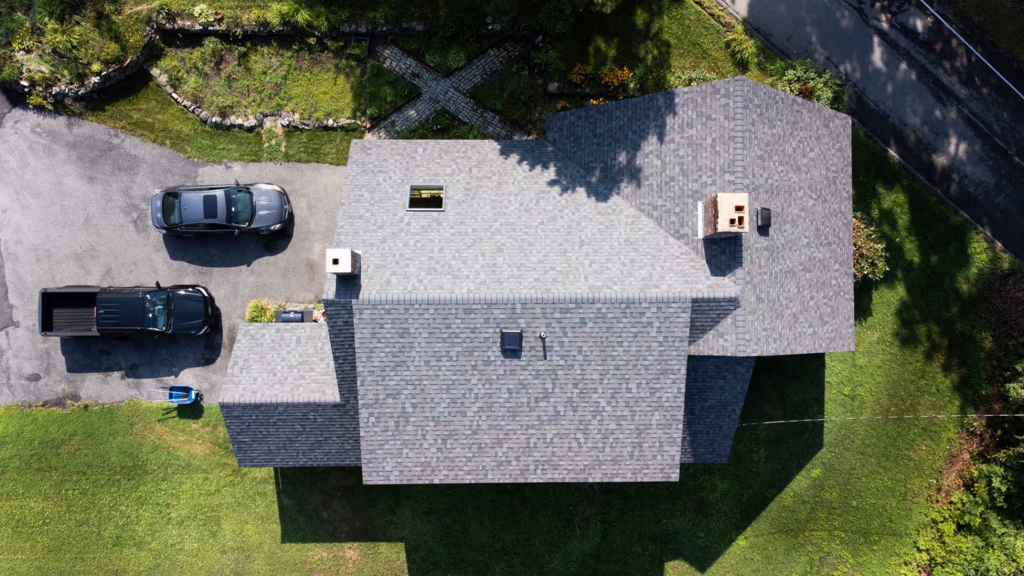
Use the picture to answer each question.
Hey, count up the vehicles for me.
2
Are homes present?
Yes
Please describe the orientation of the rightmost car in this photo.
from left to right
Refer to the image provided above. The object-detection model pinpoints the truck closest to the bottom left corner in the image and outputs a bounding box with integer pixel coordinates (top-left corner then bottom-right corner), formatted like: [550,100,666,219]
[38,280,216,344]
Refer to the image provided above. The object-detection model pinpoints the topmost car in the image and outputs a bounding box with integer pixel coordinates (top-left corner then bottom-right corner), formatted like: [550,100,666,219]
[151,177,294,241]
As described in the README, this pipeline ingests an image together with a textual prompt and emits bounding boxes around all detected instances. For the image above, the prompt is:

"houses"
[218,78,855,484]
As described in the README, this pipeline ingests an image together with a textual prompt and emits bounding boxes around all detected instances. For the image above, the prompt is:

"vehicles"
[38,280,216,344]
[151,177,294,241]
